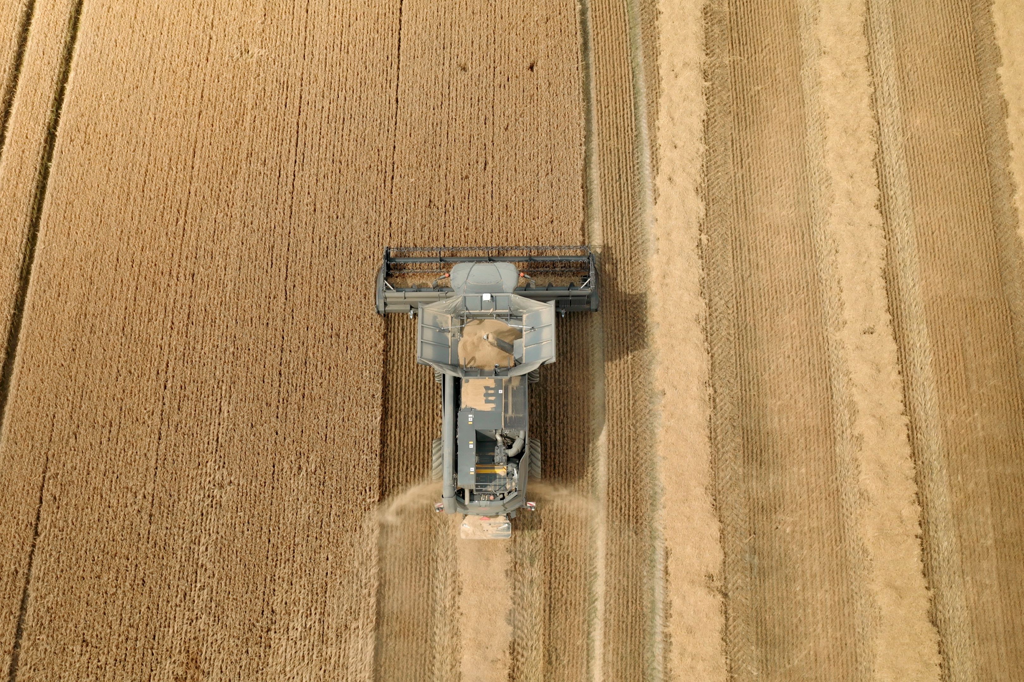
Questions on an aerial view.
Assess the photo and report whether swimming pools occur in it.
No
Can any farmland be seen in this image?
Yes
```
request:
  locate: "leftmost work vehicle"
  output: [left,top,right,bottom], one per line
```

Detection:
[376,239,599,540]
